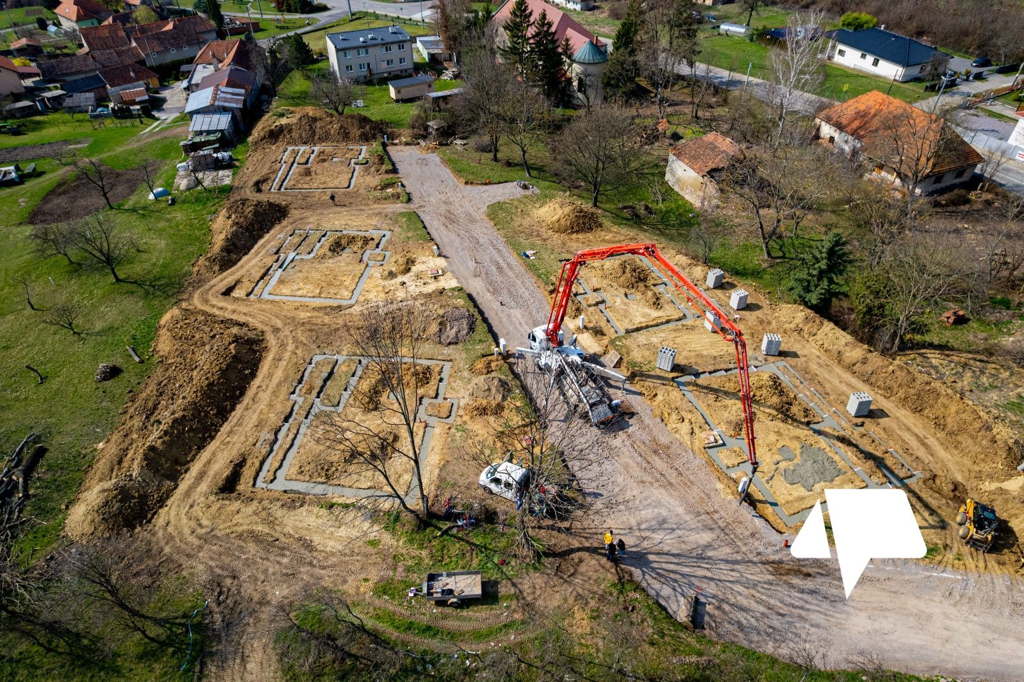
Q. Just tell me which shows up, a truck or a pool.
truck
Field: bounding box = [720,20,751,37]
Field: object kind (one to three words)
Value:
shed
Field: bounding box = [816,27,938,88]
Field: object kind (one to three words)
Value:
house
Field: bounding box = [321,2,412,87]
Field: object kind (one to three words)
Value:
building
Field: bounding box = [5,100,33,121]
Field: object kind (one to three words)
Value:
shed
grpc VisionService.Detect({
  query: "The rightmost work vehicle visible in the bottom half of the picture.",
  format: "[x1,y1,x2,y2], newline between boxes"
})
[962,490,1005,557]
